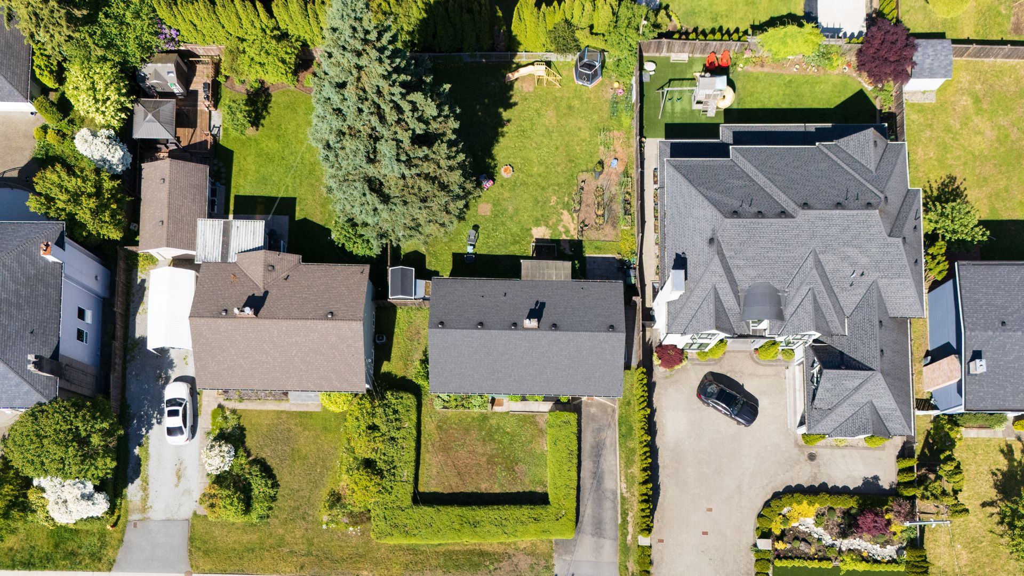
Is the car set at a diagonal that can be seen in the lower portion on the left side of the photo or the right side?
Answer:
right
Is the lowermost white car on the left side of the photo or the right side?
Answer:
left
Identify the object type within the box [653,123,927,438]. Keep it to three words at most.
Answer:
house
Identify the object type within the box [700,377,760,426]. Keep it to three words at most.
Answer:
car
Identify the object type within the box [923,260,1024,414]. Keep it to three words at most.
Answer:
house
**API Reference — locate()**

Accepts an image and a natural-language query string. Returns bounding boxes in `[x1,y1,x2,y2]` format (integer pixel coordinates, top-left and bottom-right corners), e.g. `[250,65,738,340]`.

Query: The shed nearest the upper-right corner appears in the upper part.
[906,39,954,91]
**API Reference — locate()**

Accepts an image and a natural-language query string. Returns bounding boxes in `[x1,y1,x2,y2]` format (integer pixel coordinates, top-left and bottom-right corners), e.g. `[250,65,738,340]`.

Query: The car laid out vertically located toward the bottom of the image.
[162,384,193,447]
